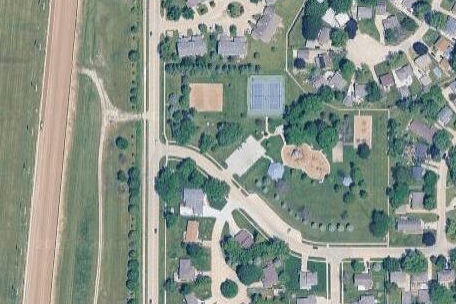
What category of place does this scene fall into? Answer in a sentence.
This looks like a sports ground.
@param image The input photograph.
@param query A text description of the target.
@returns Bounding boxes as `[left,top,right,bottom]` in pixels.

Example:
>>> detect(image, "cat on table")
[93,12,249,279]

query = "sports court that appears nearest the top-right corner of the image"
[353,115,371,149]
